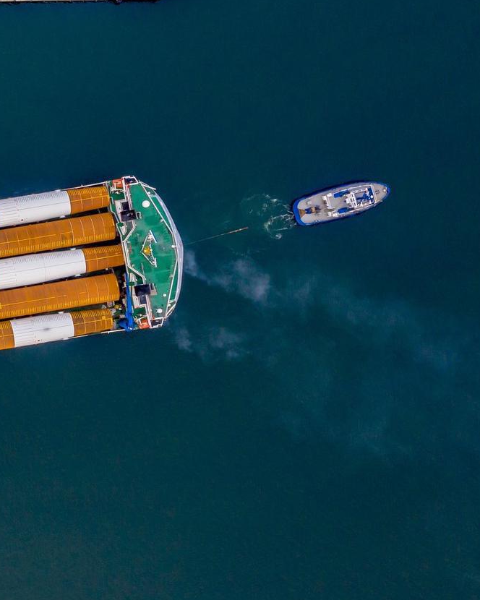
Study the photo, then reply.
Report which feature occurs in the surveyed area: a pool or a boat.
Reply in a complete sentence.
This aerial view contains a boat.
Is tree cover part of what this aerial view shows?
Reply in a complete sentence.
No, the picture contains no tree cover.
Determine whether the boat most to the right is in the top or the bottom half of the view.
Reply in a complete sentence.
The boat most to the right is in the top half of the image.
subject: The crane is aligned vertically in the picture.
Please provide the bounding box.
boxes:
[117,272,133,332]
